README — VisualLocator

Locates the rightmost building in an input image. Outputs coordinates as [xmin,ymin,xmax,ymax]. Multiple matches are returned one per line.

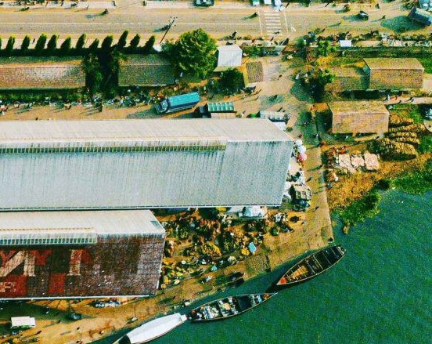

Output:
[358,58,424,99]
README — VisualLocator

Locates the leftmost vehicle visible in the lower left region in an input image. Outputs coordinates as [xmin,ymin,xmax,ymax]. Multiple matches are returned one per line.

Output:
[10,314,39,330]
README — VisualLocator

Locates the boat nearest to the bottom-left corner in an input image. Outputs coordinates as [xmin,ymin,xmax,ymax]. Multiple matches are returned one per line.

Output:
[113,310,191,344]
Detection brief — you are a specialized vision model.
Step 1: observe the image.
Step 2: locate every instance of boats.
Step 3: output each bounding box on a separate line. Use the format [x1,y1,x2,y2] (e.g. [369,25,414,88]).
[113,310,191,344]
[274,244,348,287]
[189,290,280,316]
